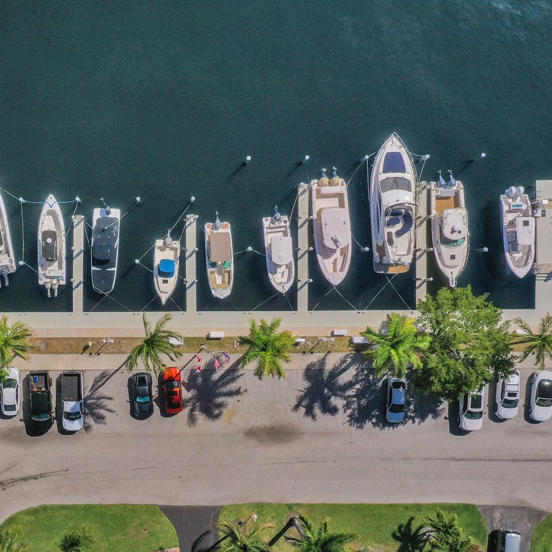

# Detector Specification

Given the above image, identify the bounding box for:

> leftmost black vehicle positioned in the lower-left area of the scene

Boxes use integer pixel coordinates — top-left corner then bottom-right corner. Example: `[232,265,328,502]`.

[26,370,53,434]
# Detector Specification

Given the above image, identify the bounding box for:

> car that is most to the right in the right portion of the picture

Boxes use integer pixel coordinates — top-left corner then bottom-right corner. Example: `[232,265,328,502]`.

[528,369,552,421]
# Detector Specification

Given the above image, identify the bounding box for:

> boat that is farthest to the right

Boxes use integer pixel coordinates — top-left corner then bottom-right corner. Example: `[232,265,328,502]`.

[497,183,535,279]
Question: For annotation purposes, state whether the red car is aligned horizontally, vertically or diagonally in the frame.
vertically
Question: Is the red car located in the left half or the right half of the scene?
left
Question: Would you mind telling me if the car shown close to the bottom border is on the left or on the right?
right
